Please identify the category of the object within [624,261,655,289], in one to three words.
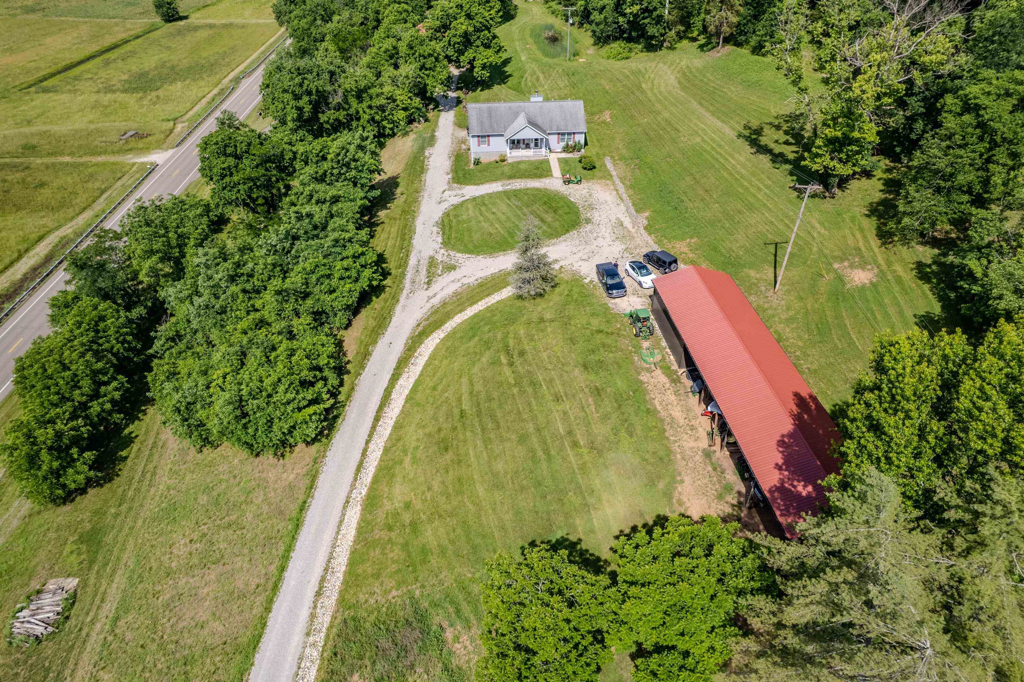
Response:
car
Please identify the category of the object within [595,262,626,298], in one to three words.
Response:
truck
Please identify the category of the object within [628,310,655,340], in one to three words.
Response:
work vehicle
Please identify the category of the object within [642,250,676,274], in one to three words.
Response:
car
